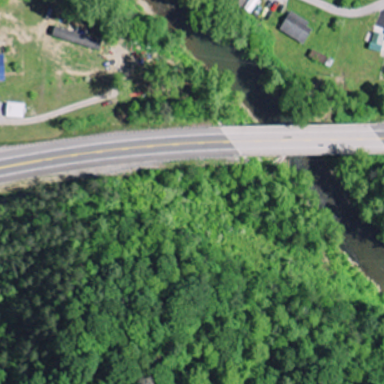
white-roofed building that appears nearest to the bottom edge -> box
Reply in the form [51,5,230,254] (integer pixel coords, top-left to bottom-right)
[6,101,28,118]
